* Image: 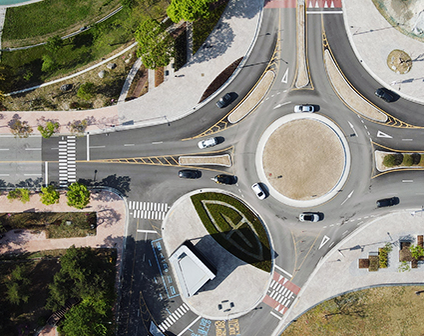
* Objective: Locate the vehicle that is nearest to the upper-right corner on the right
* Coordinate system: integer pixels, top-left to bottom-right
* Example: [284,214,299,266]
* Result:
[372,85,397,102]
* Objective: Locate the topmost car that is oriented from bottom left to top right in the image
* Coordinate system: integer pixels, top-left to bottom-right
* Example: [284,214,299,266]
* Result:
[214,90,236,109]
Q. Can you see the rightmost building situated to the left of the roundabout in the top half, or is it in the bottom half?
bottom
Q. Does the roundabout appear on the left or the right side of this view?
right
